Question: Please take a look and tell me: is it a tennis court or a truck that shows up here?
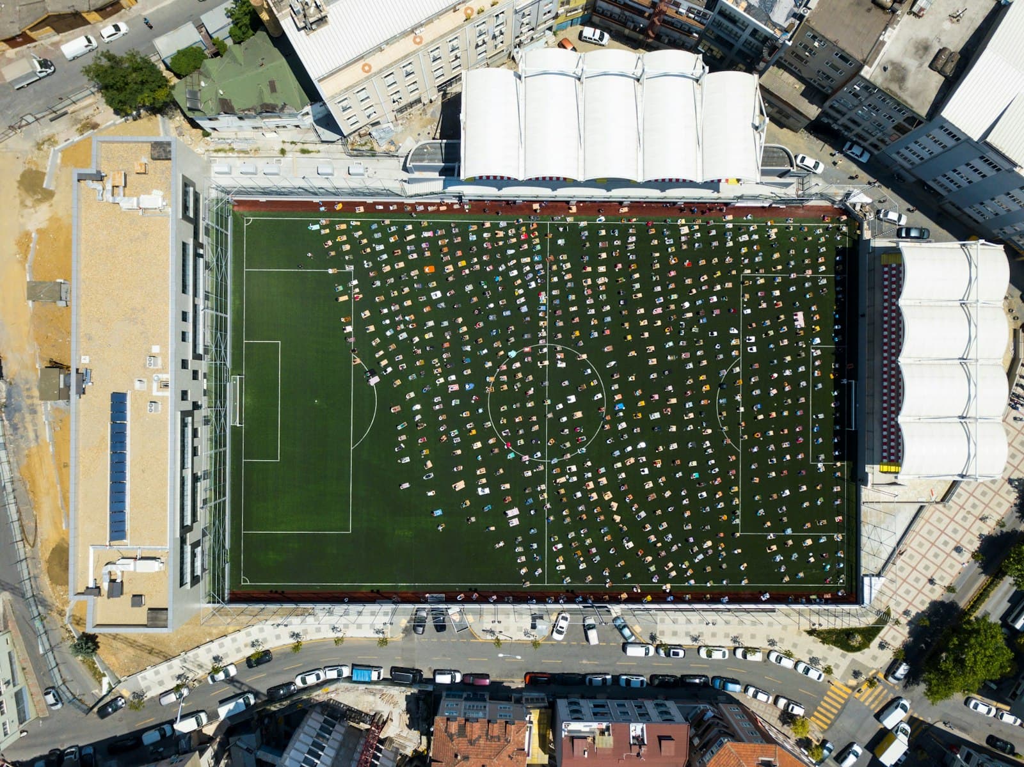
truck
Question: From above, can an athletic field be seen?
Yes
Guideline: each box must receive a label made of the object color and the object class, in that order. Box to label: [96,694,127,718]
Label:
black car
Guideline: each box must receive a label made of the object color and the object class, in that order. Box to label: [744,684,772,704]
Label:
white car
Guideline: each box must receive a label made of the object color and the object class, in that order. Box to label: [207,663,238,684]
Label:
white car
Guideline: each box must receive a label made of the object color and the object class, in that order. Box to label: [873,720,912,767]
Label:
white truck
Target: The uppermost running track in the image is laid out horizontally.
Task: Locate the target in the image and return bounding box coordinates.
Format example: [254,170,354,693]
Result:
[231,201,857,219]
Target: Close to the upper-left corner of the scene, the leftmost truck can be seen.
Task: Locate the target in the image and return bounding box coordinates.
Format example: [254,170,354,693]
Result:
[4,56,56,91]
